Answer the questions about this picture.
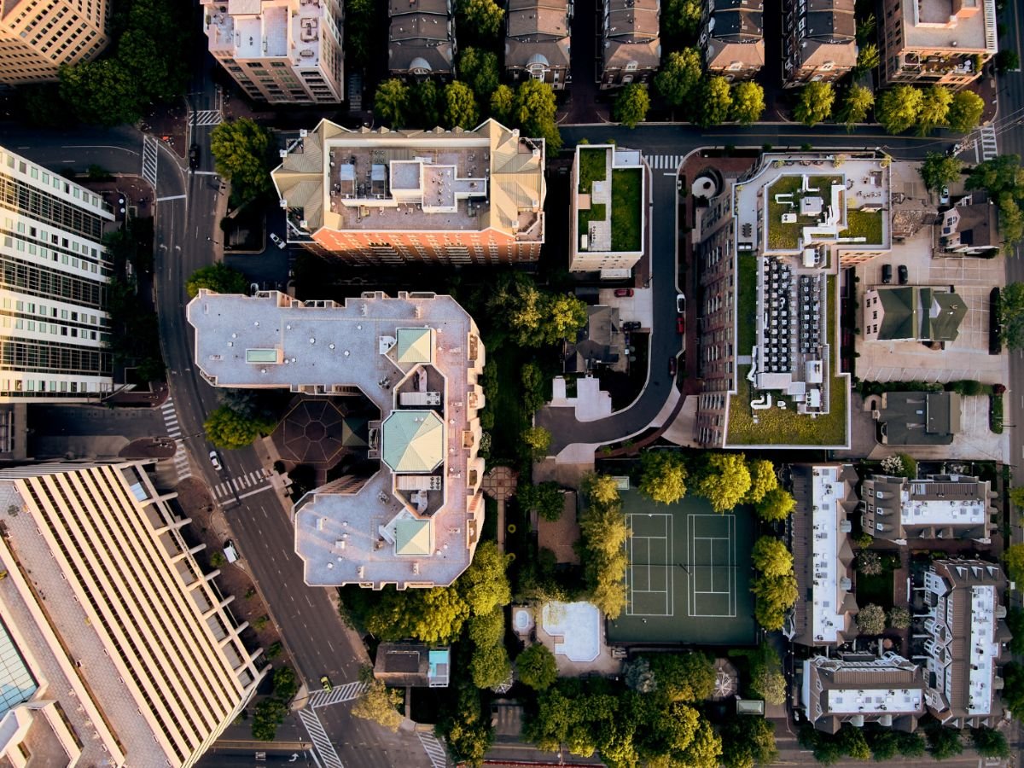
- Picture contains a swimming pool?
Yes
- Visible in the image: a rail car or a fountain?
fountain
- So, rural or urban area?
urban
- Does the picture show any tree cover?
Yes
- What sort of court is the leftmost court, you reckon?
tennis court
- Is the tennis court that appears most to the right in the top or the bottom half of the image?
bottom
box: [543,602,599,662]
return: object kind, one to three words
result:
swimming pool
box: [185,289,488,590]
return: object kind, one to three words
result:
building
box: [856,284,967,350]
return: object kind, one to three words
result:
house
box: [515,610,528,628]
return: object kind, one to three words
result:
swimming pool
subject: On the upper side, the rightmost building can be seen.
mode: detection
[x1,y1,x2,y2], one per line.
[931,191,1000,257]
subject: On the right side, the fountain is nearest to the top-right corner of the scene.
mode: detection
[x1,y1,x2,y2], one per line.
[691,159,732,199]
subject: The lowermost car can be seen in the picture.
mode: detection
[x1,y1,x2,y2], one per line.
[319,674,332,695]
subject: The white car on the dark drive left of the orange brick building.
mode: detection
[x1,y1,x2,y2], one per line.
[269,231,286,250]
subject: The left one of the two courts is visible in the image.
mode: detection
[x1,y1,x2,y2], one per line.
[609,477,680,645]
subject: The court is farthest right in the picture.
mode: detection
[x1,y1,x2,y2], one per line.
[680,478,757,645]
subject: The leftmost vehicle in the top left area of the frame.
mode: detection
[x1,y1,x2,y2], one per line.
[186,142,198,165]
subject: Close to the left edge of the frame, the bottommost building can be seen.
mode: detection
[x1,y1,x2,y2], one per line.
[0,442,285,768]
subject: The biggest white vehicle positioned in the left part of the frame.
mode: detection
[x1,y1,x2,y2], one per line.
[219,539,238,566]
